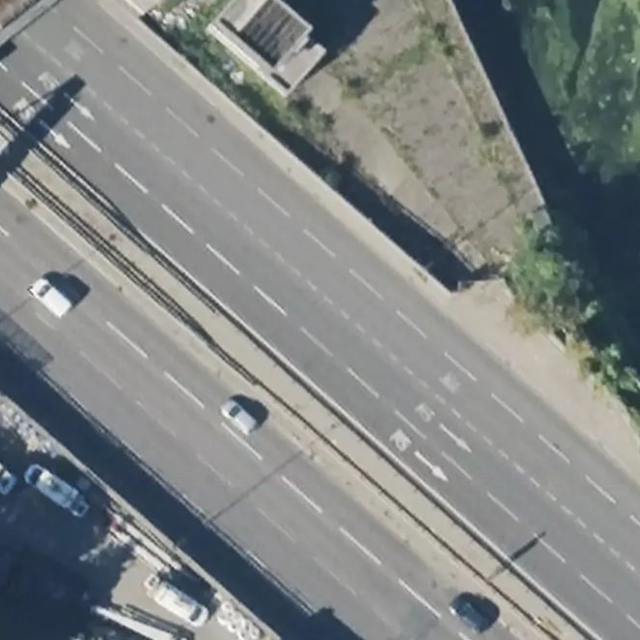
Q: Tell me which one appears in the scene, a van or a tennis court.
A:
van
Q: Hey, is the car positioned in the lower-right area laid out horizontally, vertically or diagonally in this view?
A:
diagonally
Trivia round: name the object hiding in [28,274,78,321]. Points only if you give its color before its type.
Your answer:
white van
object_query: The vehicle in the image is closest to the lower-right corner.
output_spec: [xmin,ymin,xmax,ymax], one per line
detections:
[453,591,497,634]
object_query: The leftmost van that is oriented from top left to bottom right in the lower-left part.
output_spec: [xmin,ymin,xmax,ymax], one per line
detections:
[25,463,91,519]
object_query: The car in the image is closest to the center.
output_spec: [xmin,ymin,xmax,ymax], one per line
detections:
[219,395,263,436]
